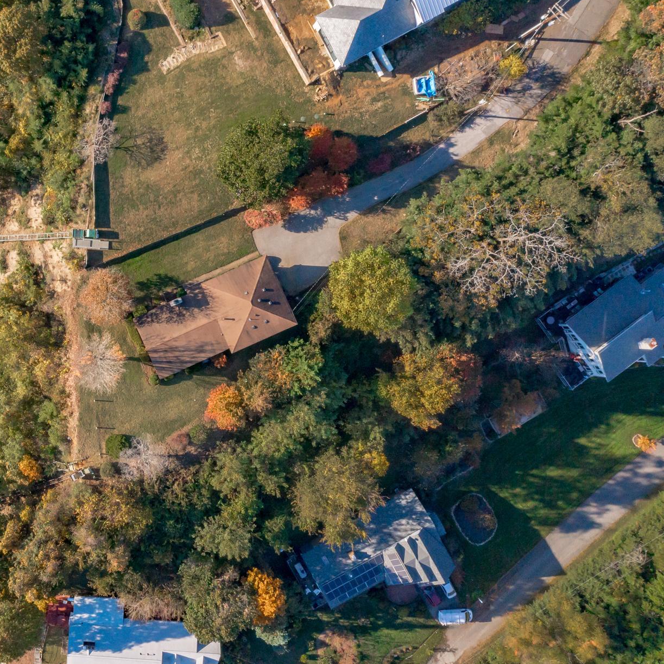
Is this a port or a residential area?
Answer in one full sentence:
What you see here is a residential area.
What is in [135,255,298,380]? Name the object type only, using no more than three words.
house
